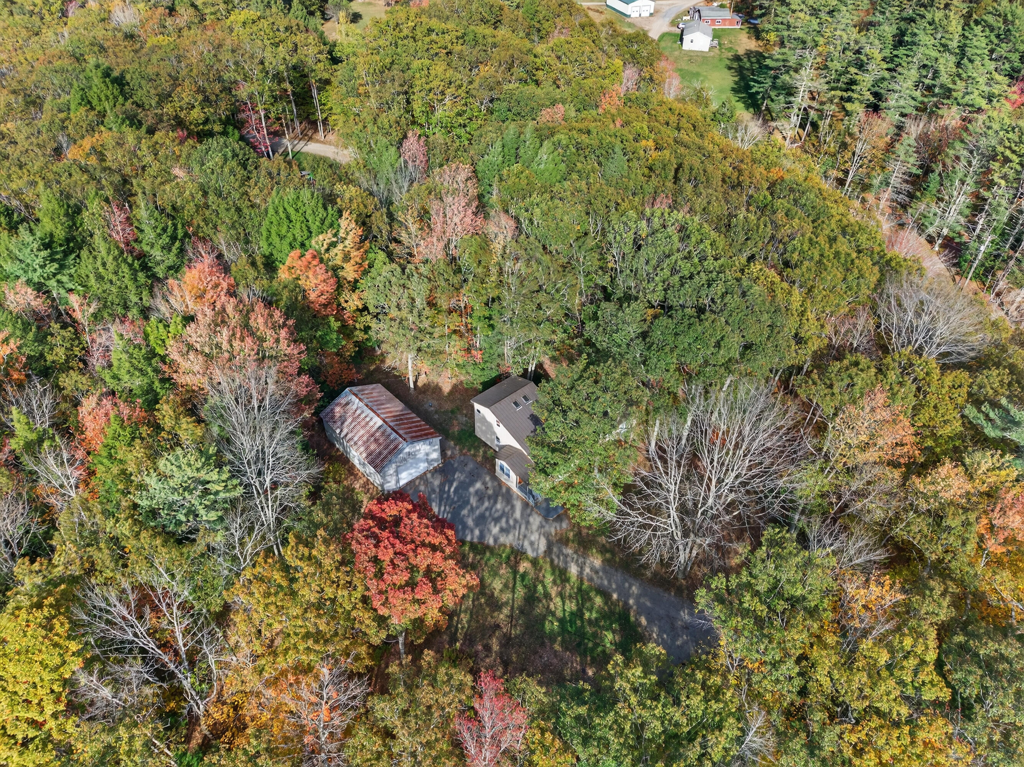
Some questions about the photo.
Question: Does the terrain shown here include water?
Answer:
No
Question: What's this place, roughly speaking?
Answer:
forest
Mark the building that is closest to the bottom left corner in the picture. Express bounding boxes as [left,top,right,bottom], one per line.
[320,384,441,492]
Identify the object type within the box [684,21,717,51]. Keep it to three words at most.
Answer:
house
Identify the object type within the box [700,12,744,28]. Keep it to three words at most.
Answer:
barn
